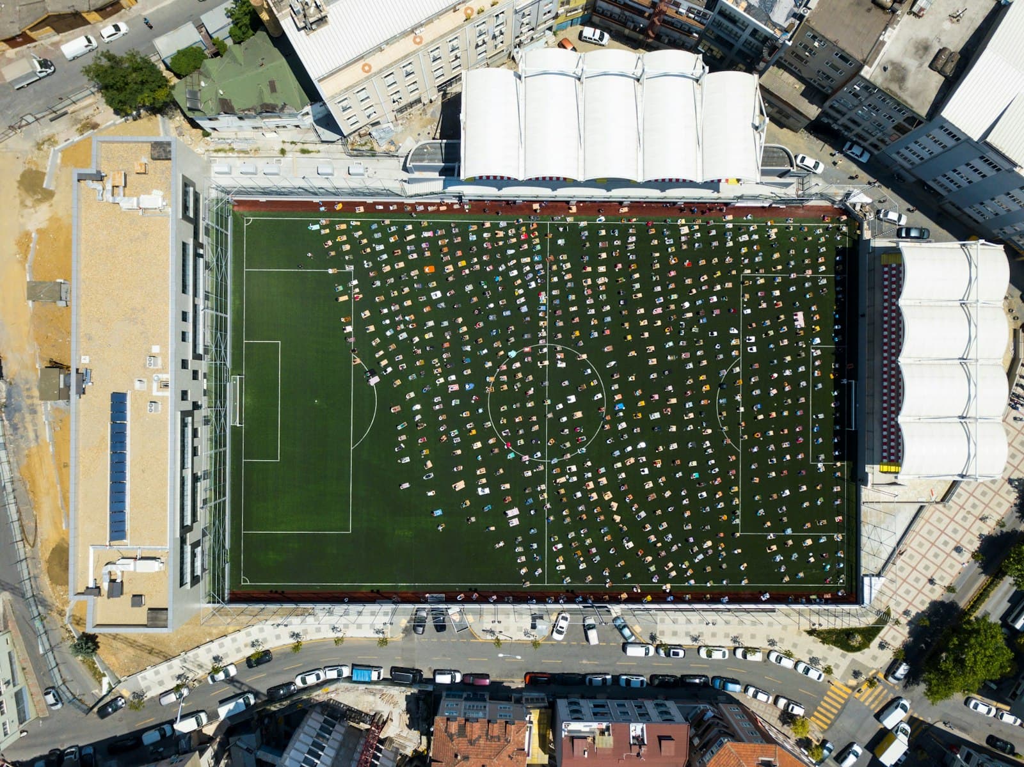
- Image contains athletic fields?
Yes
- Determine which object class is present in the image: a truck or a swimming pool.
truck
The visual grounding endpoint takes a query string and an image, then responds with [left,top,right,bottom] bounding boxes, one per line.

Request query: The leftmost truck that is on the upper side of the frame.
[4,56,56,91]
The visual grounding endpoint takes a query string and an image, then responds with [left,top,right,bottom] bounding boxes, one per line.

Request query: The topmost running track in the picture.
[231,201,857,219]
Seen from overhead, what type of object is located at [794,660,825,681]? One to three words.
car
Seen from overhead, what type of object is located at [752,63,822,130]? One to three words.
shed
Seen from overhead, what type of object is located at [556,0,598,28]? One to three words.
house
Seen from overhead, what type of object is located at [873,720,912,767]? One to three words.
truck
